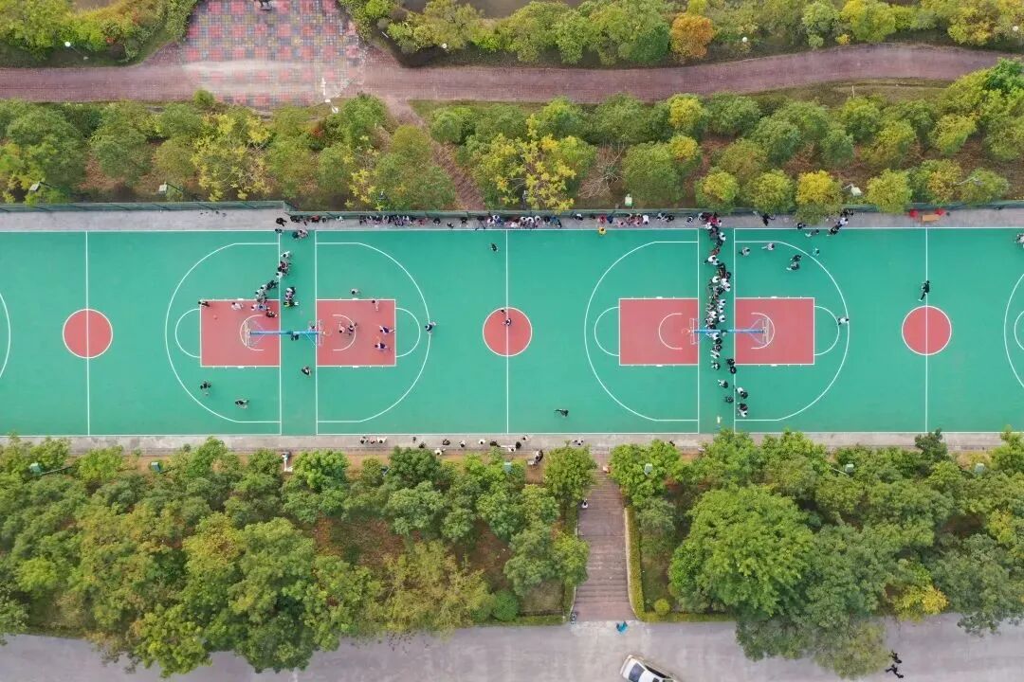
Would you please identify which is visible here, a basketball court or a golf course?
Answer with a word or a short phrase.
basketball court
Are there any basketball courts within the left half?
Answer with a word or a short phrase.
Yes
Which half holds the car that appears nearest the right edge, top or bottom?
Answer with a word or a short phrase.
bottom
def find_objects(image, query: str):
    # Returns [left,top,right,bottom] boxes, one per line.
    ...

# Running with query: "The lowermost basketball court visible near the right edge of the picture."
[717,227,1024,434]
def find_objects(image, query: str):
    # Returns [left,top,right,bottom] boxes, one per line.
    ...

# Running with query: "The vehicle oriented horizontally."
[620,655,680,682]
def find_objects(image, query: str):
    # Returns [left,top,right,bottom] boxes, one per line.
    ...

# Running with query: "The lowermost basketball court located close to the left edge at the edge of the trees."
[0,230,299,437]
